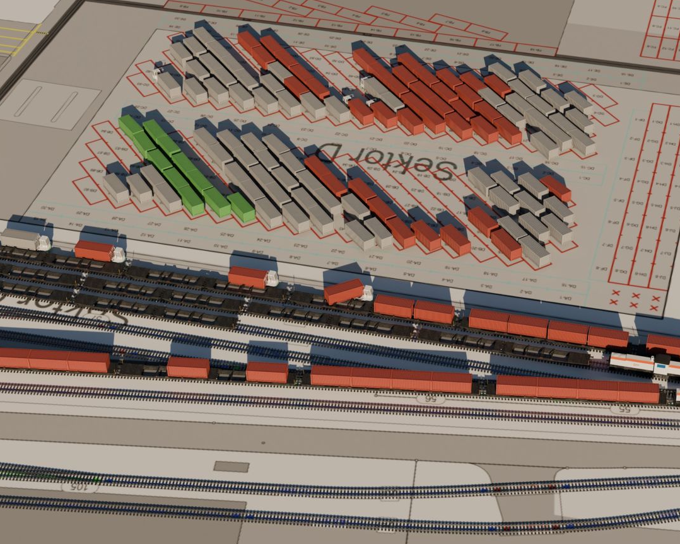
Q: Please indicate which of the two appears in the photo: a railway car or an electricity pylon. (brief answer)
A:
railway car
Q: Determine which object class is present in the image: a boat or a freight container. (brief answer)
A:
freight container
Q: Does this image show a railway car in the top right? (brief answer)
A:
No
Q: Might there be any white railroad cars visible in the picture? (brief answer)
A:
Yes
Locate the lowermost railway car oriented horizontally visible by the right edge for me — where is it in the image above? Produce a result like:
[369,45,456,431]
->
[481,381,667,404]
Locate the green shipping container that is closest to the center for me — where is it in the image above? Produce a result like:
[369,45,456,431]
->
[228,192,257,224]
